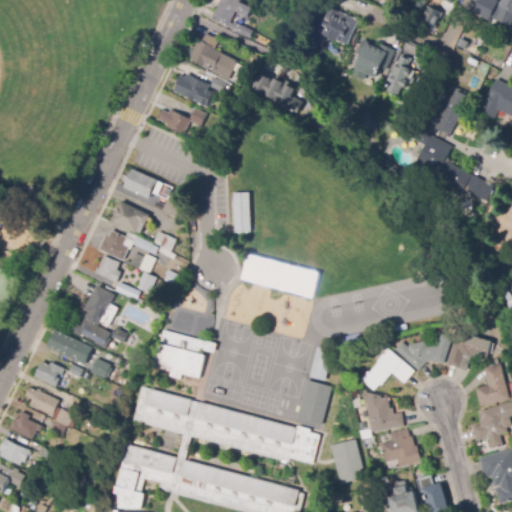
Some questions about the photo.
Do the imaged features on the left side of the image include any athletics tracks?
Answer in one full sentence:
No, looking on the left side of the image, there is no athletics track.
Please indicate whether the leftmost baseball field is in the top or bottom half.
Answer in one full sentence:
The leftmost baseball field is in the top half of the image.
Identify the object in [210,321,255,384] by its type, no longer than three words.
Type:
basketball court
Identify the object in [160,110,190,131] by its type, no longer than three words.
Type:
house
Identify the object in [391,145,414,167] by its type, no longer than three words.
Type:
swimming pool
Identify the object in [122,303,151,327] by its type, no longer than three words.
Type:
swimming pool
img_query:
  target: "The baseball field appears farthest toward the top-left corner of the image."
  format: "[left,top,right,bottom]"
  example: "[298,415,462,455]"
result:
[0,0,166,186]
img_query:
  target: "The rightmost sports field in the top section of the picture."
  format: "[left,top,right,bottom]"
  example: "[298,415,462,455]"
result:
[227,100,426,296]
